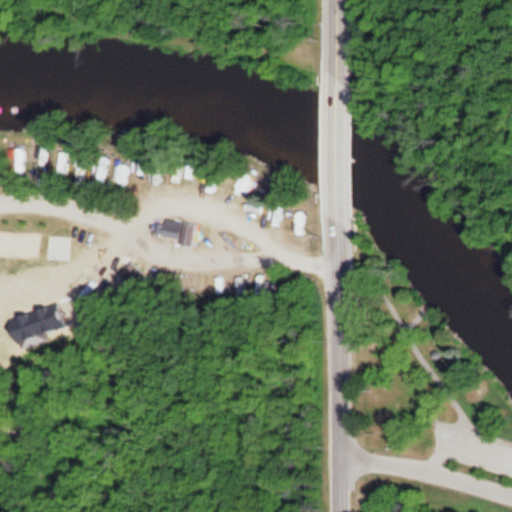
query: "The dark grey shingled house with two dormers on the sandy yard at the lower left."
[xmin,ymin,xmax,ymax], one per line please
[7,306,70,353]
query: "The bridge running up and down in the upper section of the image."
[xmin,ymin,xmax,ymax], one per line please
[315,76,357,233]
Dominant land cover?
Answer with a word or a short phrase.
trees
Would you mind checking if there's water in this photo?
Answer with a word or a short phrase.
Yes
